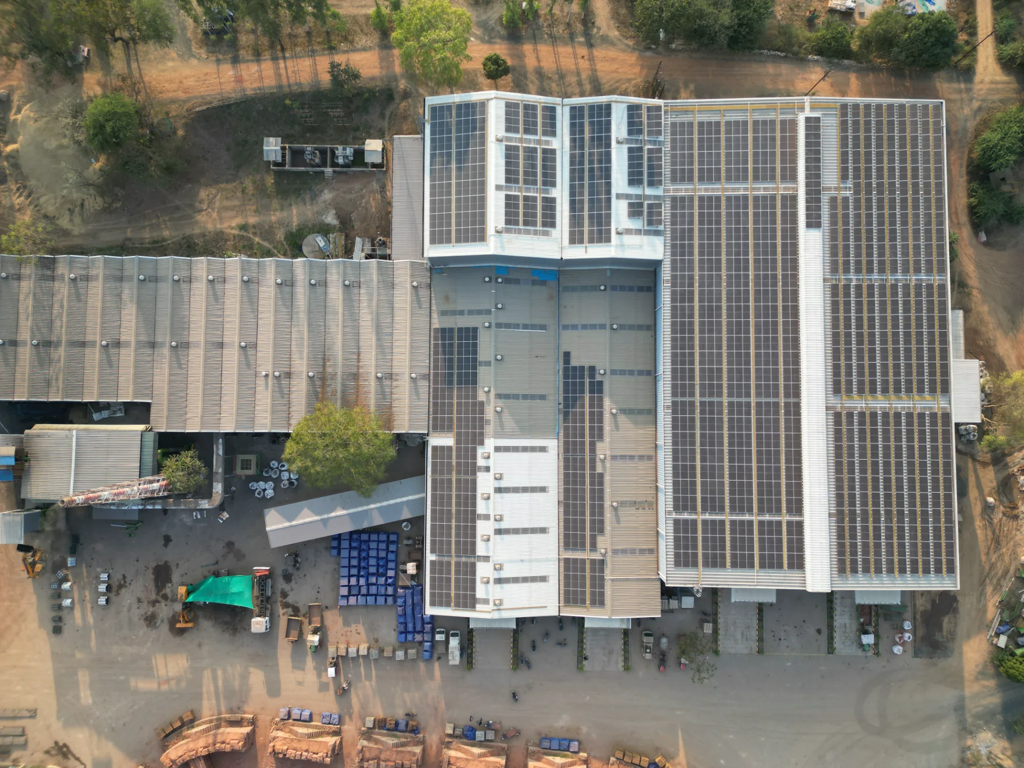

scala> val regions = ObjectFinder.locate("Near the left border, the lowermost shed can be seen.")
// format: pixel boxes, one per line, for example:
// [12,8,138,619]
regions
[2,509,42,543]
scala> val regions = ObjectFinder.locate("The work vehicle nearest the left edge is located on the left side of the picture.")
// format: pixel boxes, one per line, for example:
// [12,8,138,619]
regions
[13,543,46,583]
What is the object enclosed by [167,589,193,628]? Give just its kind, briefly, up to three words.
work vehicle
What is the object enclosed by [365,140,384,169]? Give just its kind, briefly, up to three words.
shed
